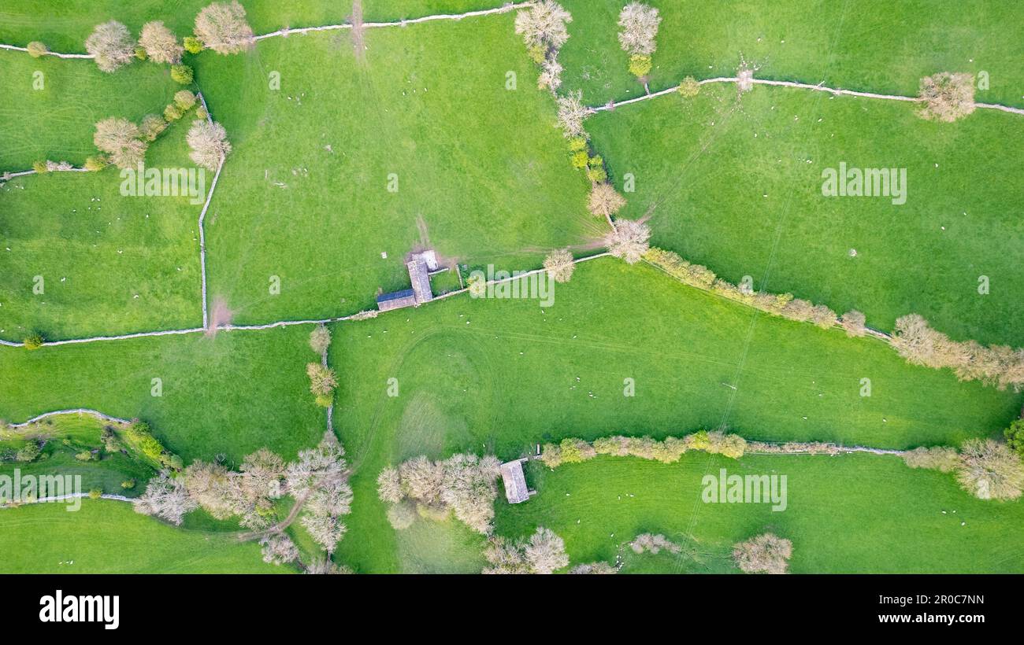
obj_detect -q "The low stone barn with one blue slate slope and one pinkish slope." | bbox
[377,289,415,311]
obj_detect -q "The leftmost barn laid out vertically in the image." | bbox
[408,260,434,303]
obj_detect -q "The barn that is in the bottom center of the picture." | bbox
[499,459,529,503]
